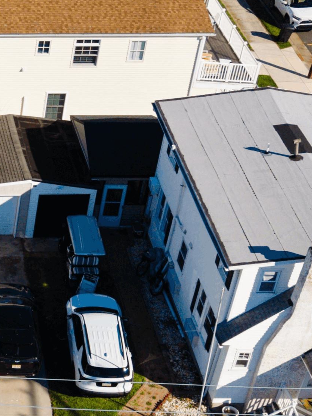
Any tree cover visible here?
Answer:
No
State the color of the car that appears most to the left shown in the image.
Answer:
black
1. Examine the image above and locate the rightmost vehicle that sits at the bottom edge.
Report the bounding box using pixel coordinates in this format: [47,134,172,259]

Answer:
[64,294,134,398]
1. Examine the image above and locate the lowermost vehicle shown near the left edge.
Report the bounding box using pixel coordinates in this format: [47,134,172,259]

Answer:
[0,278,46,376]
